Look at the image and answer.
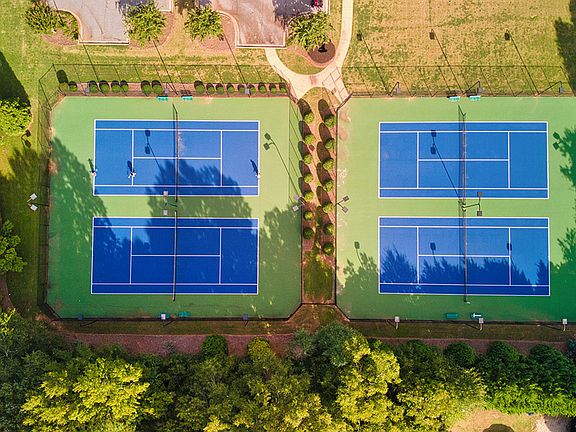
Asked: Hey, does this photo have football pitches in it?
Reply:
No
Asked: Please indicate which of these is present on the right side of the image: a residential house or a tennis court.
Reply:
tennis court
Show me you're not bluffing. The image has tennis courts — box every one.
[379,121,549,199]
[379,216,550,296]
[93,119,260,197]
[91,217,259,295]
